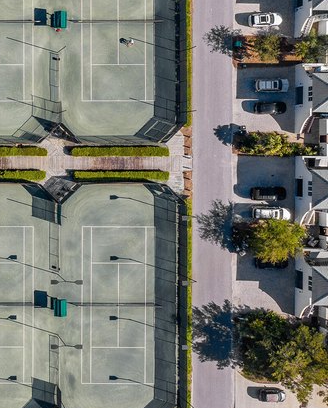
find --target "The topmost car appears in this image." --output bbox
[247,12,280,27]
